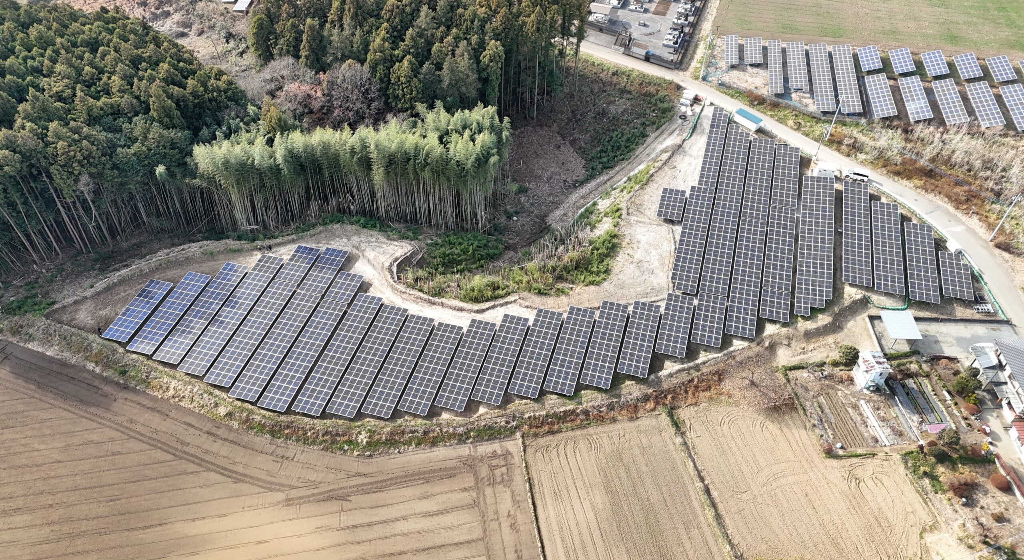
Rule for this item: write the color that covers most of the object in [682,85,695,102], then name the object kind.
white vehicle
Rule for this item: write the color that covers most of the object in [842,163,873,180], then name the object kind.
white vehicle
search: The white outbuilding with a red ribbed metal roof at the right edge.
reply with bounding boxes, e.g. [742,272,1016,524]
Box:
[995,422,1024,480]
